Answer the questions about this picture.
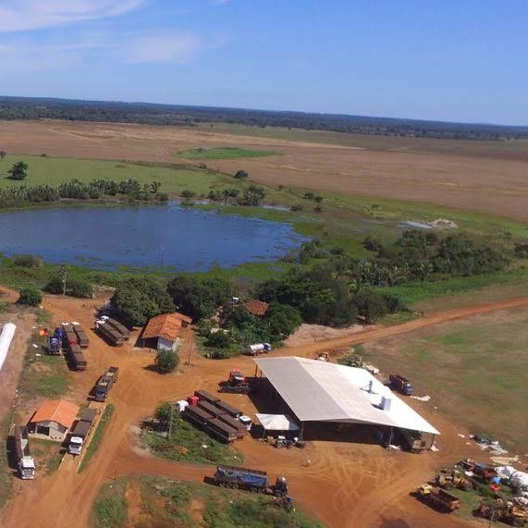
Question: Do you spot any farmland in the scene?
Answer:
Yes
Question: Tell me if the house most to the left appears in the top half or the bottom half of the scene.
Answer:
bottom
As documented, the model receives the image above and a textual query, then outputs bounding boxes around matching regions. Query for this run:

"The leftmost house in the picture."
[31,400,76,439]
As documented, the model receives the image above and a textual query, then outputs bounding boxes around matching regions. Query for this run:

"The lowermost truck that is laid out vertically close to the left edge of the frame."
[8,425,35,478]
